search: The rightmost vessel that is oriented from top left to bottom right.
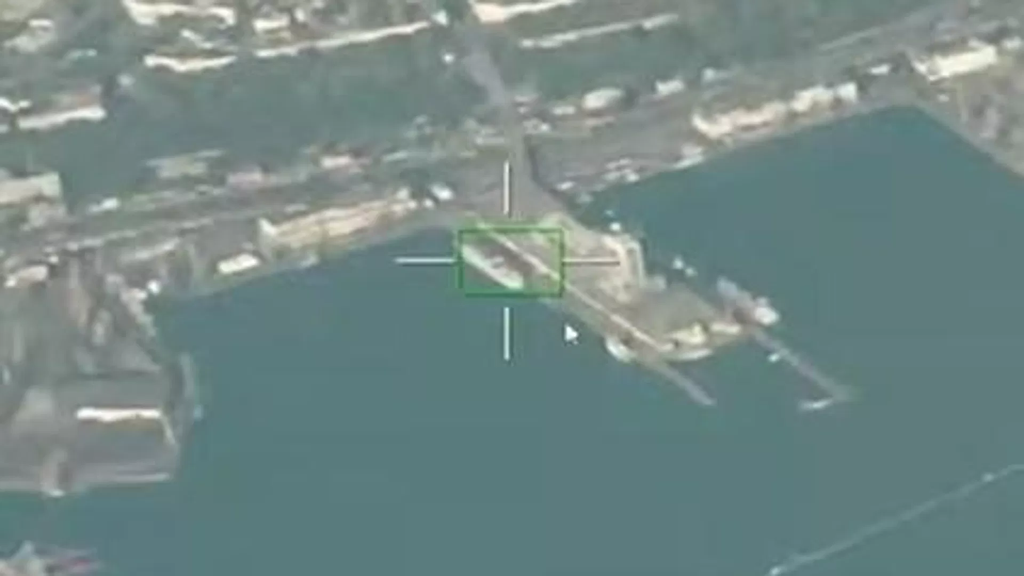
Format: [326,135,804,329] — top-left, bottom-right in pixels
[715,279,783,328]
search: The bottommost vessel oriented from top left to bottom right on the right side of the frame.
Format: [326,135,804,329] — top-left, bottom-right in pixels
[606,336,639,369]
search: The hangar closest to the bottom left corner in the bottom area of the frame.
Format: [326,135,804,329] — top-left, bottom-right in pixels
[77,374,164,422]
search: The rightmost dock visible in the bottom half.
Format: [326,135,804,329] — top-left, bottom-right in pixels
[790,350,851,398]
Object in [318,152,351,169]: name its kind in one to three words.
house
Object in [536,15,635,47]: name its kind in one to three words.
building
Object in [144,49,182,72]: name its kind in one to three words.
shed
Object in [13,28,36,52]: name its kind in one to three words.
house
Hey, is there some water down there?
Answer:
Yes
